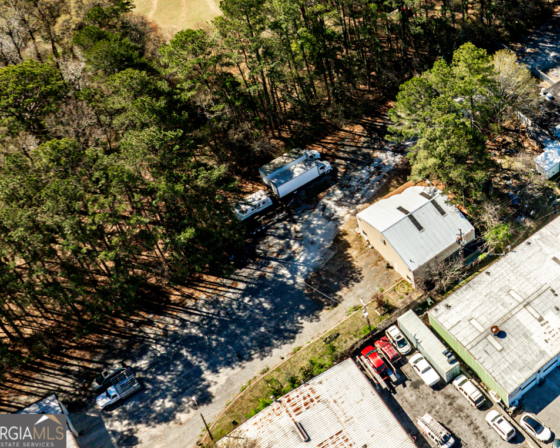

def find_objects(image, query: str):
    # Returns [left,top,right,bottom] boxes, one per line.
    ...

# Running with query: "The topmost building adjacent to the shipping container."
[354,182,477,285]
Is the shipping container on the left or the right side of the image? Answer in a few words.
right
